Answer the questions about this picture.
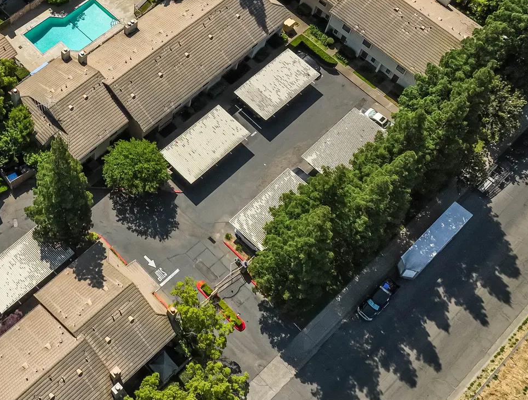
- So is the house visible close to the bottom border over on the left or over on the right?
left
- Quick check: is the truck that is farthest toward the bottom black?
Yes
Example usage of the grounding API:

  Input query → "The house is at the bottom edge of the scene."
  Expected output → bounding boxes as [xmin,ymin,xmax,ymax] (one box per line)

[0,240,182,400]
